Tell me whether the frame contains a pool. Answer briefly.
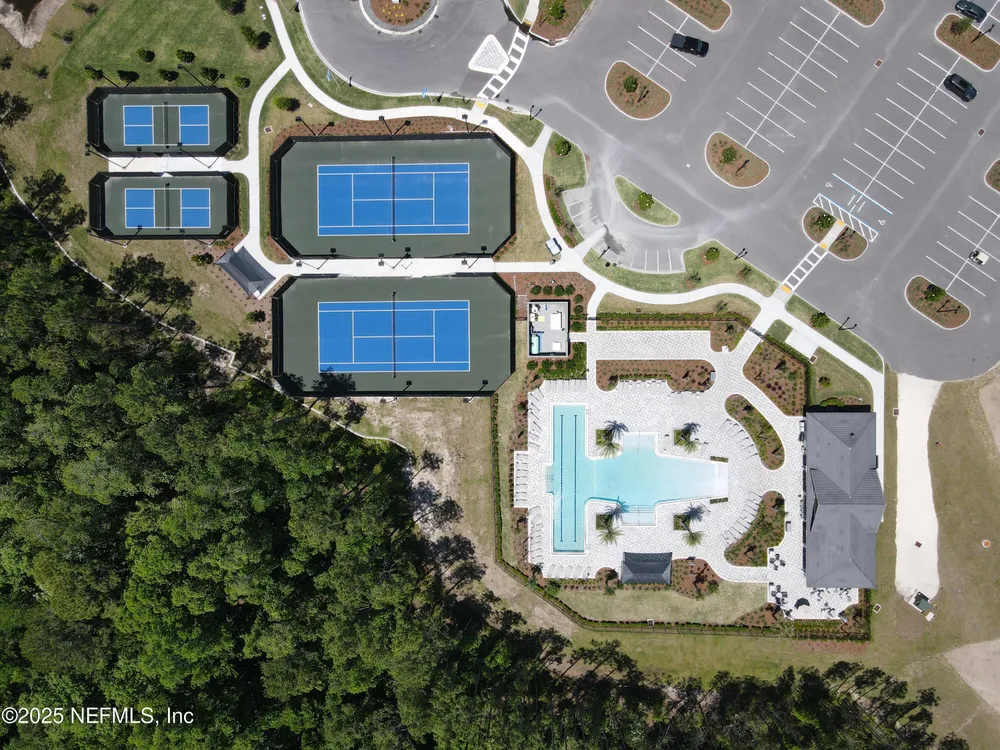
Yes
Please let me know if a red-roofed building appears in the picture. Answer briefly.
No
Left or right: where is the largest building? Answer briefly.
right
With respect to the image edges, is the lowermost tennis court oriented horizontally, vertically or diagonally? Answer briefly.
horizontally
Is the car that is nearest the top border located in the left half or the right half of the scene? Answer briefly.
right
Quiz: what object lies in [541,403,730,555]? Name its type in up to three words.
swimming pool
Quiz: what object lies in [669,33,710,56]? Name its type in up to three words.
truck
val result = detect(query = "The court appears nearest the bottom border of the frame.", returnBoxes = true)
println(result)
[277,277,511,396]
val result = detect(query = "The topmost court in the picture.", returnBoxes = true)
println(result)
[99,95,226,157]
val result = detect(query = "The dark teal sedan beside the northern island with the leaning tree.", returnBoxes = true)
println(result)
[954,0,988,22]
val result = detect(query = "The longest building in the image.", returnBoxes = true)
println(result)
[801,412,890,588]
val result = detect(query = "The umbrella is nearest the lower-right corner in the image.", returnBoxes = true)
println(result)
[795,604,812,619]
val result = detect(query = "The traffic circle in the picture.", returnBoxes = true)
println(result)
[358,0,439,36]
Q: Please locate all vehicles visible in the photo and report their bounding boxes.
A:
[969,252,991,266]
[944,74,976,103]
[547,238,561,257]
[954,0,988,22]
[669,33,710,56]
